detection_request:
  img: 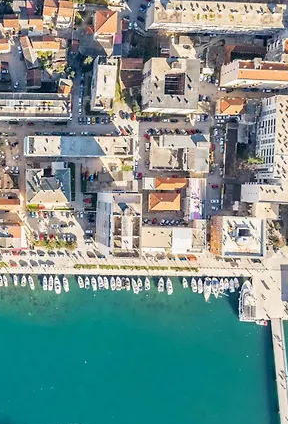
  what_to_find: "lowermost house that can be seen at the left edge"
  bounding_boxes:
[0,225,28,251]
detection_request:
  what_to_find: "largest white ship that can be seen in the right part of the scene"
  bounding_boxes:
[239,281,257,324]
